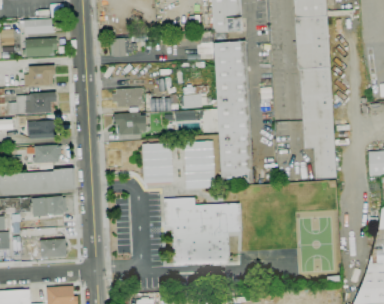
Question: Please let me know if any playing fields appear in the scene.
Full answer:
Yes, the image includes a playing field.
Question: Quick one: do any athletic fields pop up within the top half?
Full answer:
No, I see no athletic field within the top half.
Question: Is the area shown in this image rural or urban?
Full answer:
It looks urban.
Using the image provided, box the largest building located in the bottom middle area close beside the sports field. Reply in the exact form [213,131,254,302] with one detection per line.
[165,196,240,267]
